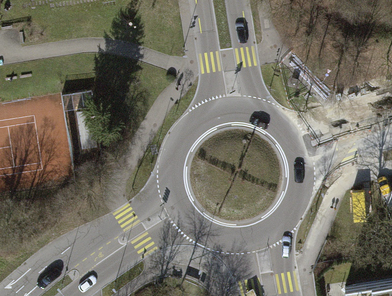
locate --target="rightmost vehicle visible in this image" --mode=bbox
[378,178,392,214]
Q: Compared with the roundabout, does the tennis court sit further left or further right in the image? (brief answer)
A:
left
